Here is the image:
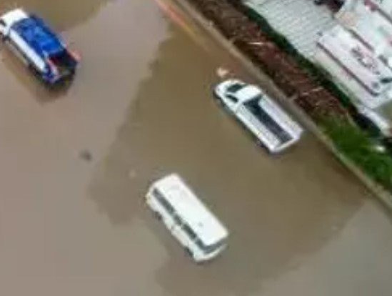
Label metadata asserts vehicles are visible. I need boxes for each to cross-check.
[2,14,77,92]
[145,179,224,261]
[221,84,302,154]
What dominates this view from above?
water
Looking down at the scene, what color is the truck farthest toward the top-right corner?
white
